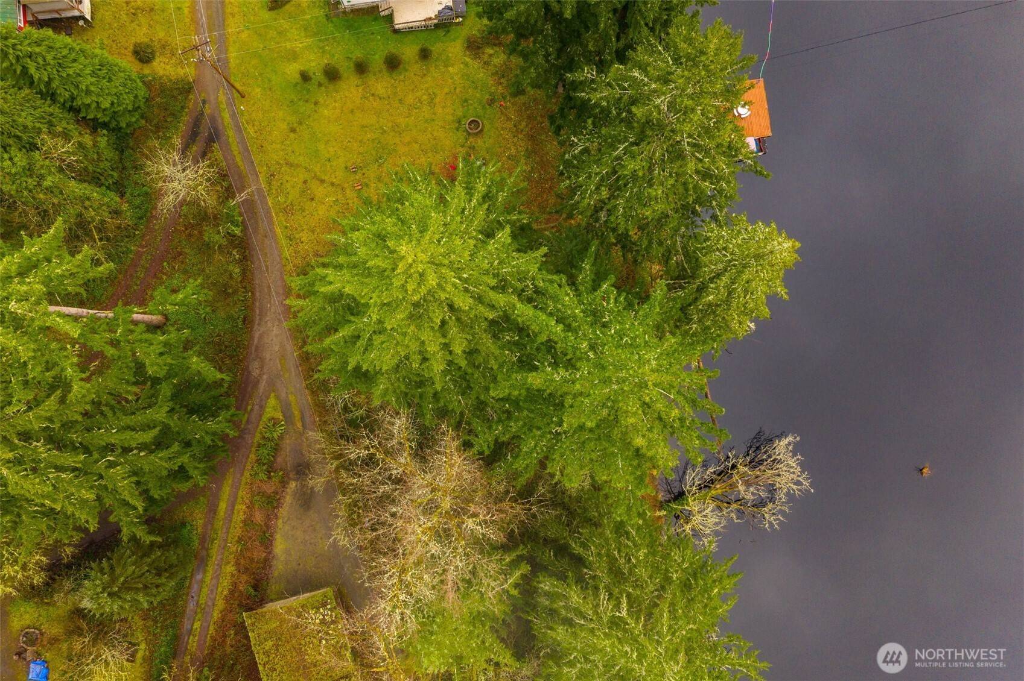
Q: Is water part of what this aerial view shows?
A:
Yes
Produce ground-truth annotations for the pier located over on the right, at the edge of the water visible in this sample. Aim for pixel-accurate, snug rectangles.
[724,78,772,144]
